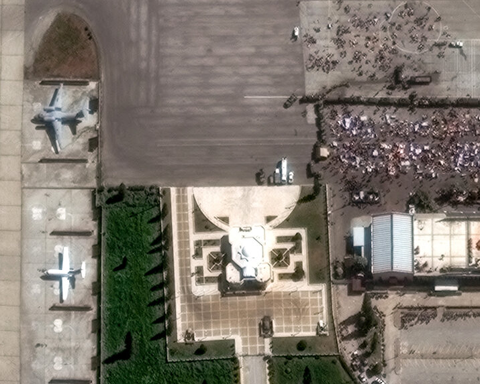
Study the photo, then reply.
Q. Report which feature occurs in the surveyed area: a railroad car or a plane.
plane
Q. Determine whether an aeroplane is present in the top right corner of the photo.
No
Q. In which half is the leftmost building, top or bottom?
bottom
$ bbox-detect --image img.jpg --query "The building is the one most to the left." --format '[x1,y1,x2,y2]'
[221,226,270,298]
